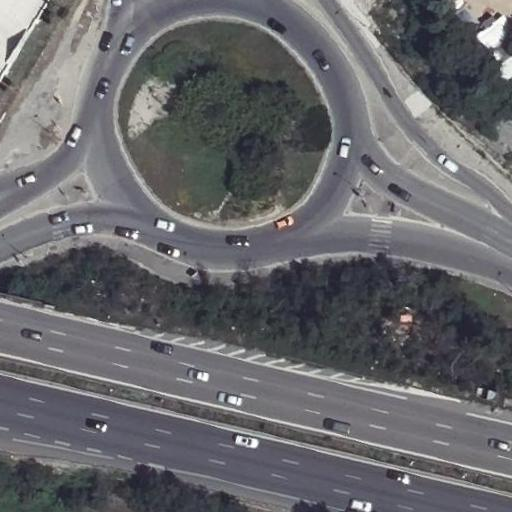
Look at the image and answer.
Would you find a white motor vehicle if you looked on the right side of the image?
Yes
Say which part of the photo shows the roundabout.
top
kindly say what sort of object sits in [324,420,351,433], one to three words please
vehicle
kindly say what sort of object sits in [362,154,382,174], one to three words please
car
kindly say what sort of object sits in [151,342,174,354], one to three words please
vehicle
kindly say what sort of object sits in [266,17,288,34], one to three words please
car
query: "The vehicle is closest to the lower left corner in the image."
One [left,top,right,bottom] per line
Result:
[85,420,106,432]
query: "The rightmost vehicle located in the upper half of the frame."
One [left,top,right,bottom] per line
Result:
[436,153,459,173]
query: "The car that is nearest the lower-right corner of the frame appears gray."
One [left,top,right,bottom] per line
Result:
[488,439,511,451]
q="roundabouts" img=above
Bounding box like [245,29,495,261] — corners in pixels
[82,0,367,264]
